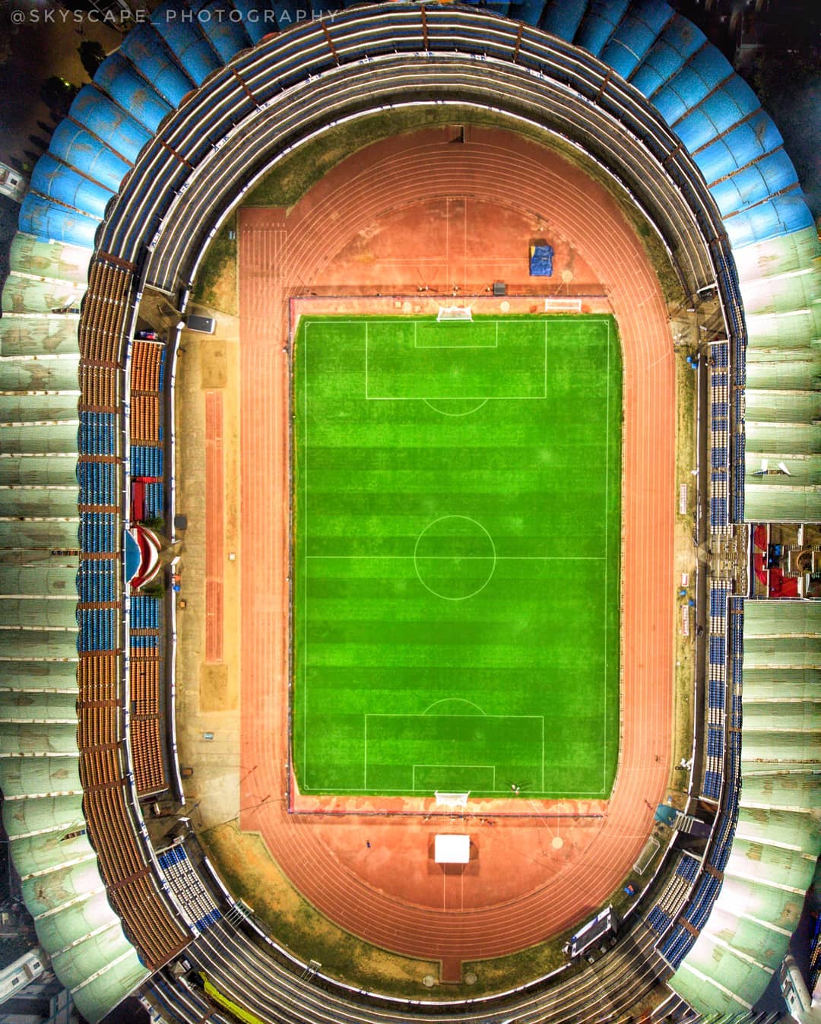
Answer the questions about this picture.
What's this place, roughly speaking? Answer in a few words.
sports ground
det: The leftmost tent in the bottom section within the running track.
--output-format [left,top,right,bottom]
[436,836,470,867]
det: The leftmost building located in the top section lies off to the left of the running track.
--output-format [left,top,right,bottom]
[0,164,31,204]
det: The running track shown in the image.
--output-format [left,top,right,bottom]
[239,126,675,982]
